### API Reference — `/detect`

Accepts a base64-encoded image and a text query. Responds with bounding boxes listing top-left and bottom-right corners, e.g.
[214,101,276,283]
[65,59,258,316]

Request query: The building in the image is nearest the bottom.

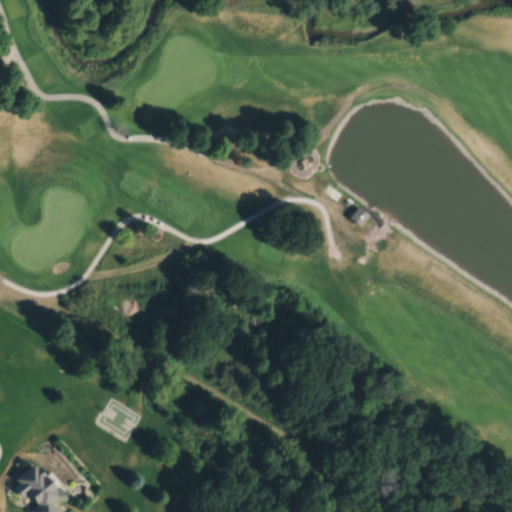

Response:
[20,466,70,512]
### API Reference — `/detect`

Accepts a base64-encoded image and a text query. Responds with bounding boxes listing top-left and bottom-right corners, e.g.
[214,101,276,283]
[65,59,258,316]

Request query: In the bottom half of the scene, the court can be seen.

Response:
[96,400,140,440]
